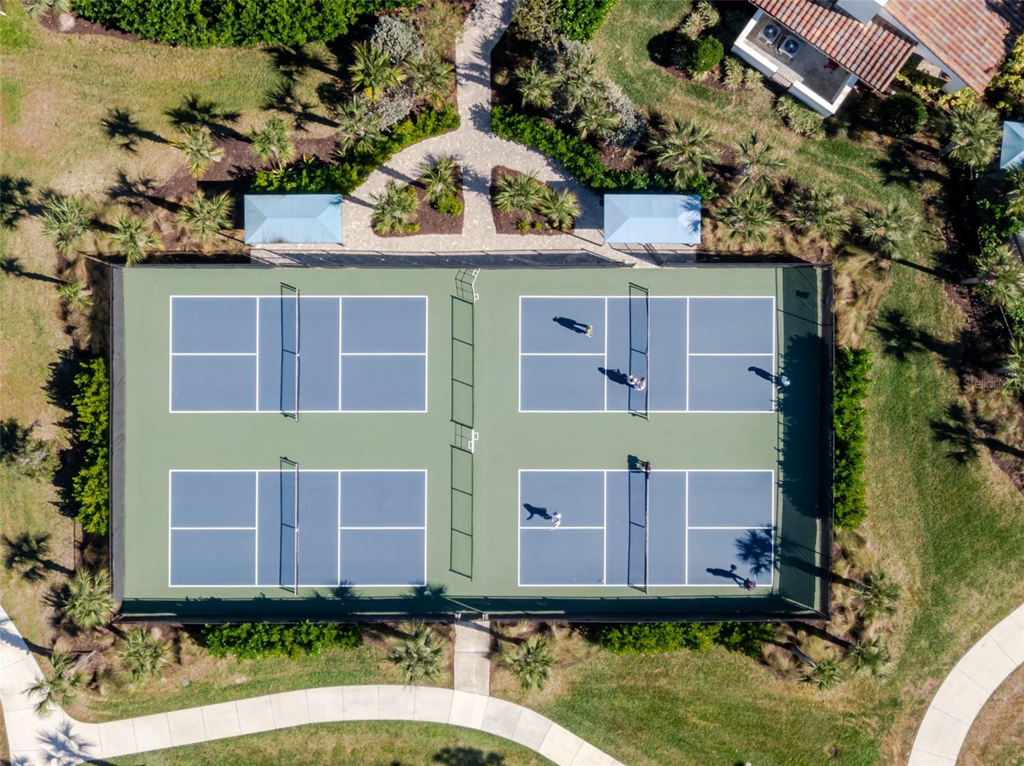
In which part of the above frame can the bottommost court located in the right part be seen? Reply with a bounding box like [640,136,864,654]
[518,470,774,587]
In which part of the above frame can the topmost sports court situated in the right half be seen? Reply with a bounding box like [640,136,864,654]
[519,296,776,413]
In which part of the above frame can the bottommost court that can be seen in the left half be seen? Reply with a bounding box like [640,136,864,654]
[170,470,426,587]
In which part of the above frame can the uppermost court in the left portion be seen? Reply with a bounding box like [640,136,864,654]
[170,296,427,413]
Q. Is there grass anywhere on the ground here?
Yes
